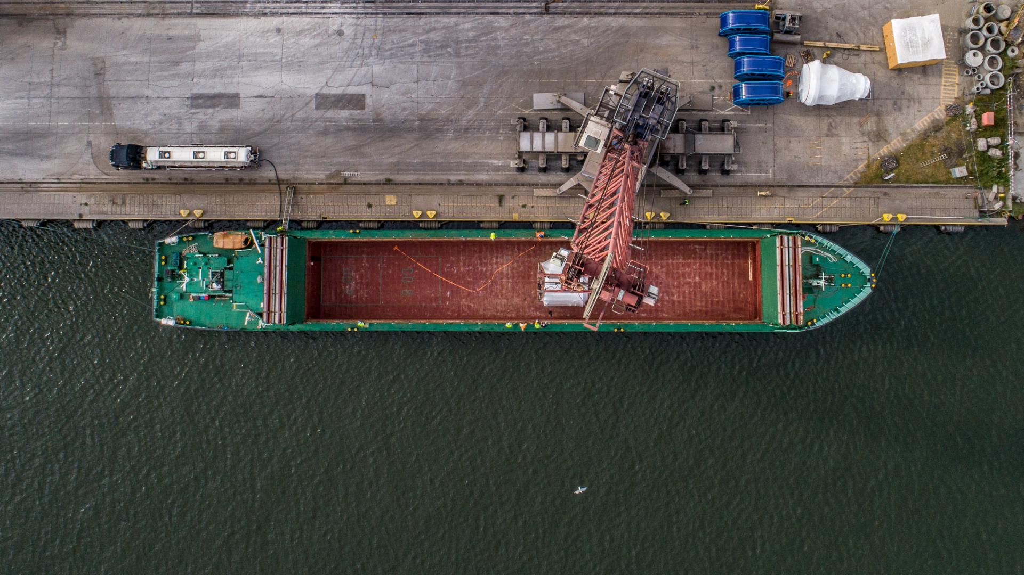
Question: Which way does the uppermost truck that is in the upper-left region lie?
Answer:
from left to right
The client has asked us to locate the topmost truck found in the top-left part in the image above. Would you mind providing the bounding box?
[108,140,259,173]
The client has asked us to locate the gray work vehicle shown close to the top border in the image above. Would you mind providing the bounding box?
[771,9,804,43]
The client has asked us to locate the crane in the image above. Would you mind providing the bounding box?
[510,65,742,331]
